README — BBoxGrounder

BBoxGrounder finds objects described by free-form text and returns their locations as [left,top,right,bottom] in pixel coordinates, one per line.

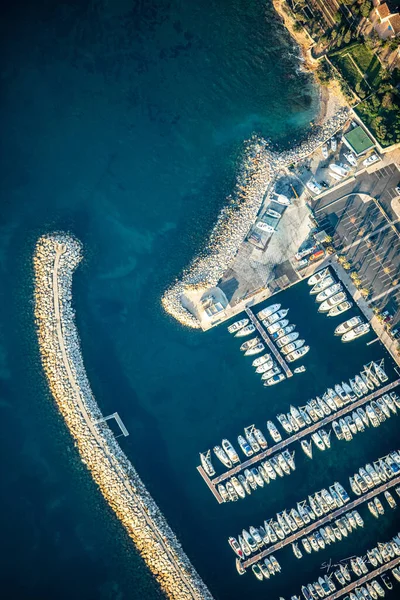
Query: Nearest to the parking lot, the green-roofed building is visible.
[343,125,375,159]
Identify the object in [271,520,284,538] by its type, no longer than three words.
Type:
boat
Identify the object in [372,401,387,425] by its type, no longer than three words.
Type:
boat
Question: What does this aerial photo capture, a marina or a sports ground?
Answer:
marina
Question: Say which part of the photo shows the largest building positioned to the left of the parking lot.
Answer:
center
